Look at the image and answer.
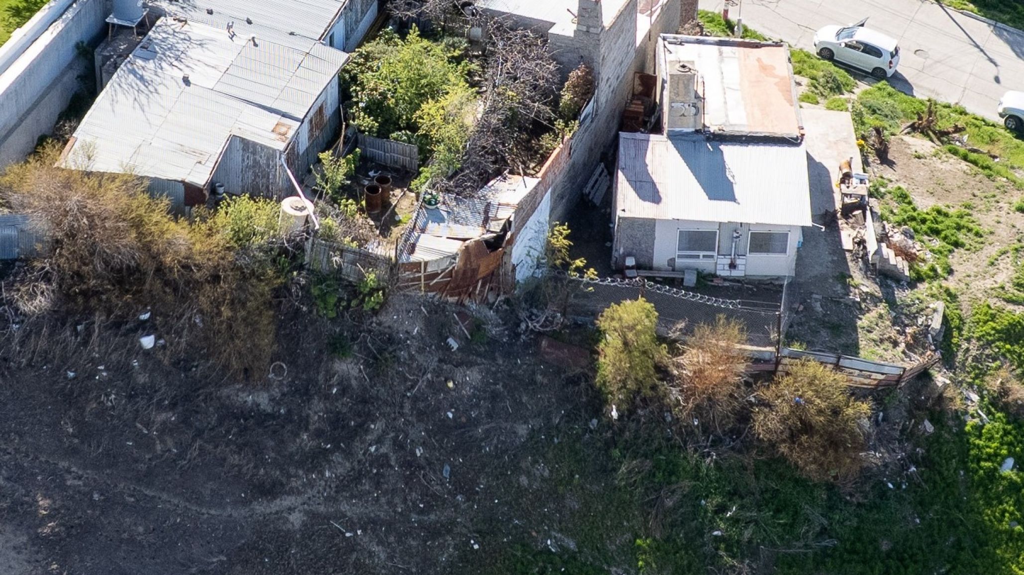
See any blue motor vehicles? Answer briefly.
No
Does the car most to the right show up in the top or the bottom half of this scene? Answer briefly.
top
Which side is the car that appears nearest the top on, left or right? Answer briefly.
right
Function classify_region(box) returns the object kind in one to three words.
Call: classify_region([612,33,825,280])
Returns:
house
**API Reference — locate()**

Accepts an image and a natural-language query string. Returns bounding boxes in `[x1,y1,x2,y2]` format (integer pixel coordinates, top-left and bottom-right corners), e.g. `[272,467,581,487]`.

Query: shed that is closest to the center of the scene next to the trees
[396,175,536,320]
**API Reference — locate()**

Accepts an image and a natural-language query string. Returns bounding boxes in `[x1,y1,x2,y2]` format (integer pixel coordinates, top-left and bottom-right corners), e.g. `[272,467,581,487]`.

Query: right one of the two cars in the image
[1000,90,1024,128]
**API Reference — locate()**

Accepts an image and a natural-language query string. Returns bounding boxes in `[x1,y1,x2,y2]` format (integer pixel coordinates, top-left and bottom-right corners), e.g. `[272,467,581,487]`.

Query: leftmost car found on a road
[820,17,903,77]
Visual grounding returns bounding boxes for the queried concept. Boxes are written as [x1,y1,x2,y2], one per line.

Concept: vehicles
[1000,90,1024,128]
[820,17,903,77]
